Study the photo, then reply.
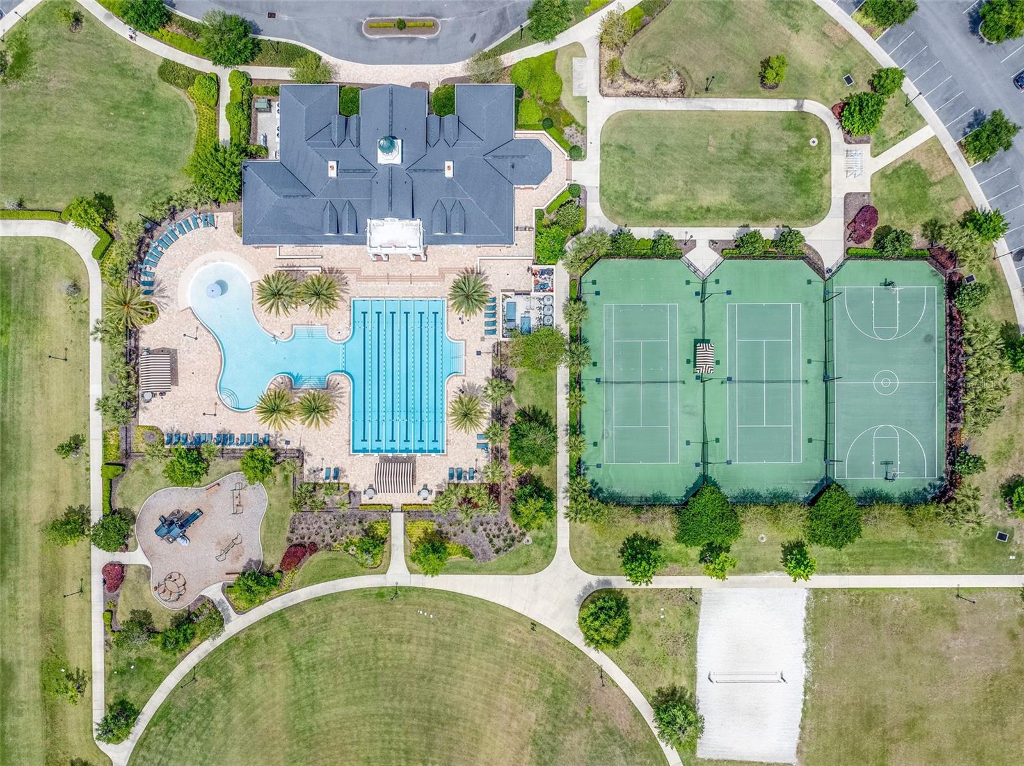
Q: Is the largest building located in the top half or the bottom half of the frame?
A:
top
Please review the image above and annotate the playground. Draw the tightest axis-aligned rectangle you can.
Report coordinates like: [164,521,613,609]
[133,471,268,612]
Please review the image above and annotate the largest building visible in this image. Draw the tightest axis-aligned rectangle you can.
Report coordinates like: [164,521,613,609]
[242,84,552,260]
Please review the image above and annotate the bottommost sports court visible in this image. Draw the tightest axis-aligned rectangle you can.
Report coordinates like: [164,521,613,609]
[696,589,809,761]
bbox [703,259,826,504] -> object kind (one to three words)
tennis court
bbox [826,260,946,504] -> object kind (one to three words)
basketball court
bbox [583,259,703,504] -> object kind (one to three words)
tennis court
